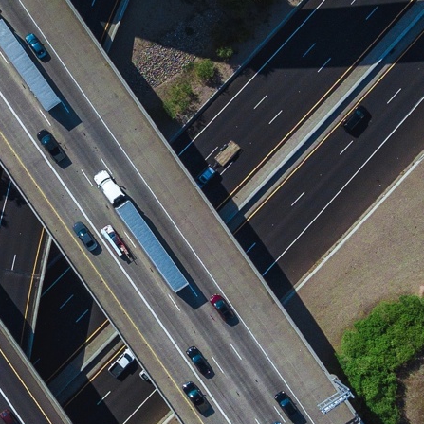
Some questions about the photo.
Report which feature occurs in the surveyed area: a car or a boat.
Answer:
car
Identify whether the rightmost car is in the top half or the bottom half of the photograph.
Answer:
top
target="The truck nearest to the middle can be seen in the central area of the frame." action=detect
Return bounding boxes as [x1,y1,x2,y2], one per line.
[194,162,220,191]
